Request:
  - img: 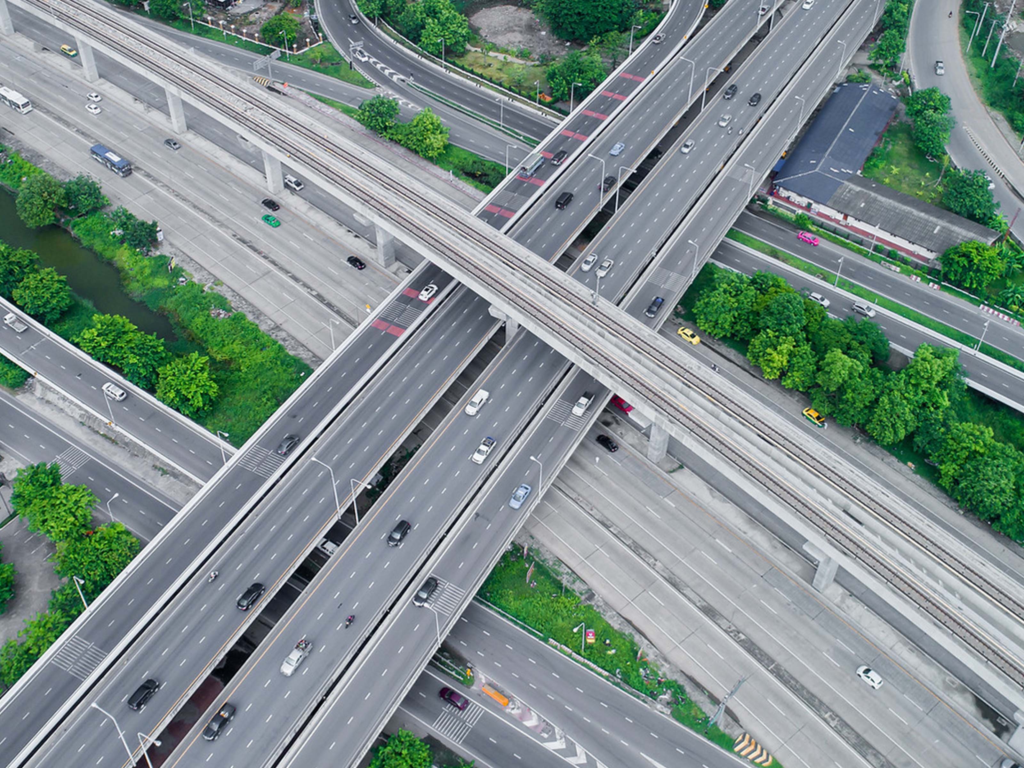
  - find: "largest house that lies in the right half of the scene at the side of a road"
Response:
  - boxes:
[770,84,1019,272]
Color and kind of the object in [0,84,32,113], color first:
white bus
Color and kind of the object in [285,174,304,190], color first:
white vehicle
